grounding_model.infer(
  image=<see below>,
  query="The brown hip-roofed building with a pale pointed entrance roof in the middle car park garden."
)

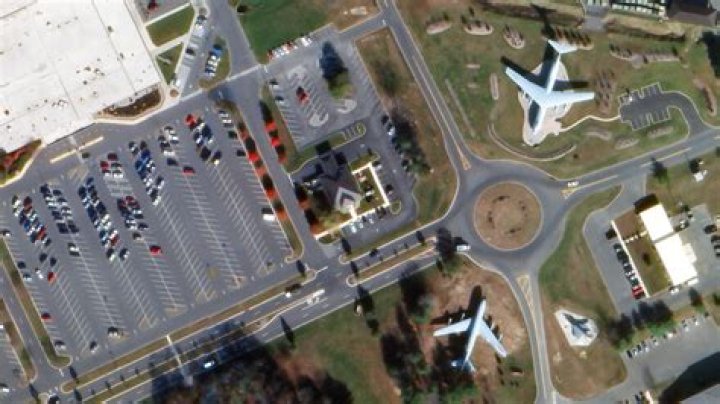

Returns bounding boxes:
[316,150,361,213]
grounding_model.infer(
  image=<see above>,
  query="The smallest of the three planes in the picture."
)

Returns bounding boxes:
[563,314,594,339]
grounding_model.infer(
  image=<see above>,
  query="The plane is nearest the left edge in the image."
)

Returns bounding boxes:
[434,300,508,374]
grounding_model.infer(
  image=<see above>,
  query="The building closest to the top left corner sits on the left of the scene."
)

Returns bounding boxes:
[0,0,160,155]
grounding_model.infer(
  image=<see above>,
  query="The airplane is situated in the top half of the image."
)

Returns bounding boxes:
[507,37,598,138]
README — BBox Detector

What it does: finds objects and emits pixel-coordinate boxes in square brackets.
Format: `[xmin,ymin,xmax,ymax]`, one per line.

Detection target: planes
[434,300,508,374]
[563,314,594,339]
[507,37,598,138]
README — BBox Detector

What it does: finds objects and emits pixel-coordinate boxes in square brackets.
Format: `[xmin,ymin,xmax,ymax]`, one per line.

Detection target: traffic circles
[453,162,562,271]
